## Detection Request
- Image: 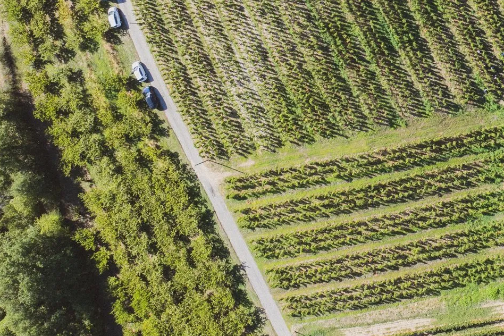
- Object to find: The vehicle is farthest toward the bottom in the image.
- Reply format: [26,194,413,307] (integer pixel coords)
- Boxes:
[142,85,159,110]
